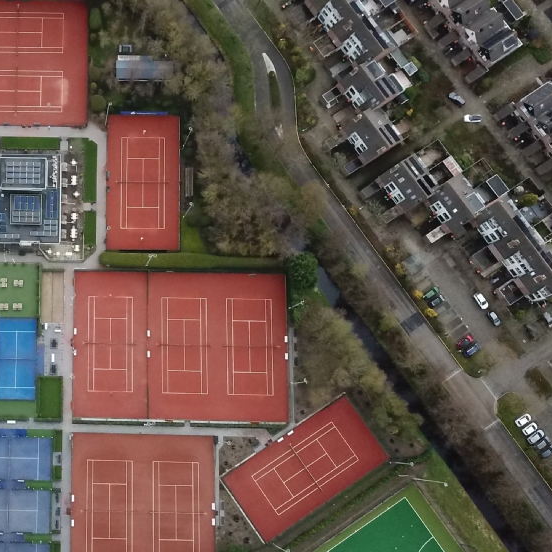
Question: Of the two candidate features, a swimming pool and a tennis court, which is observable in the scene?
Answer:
tennis court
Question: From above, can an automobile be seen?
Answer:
Yes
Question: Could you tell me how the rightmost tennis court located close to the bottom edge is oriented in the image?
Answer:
diagonally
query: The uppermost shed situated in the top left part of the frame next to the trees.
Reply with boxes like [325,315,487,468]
[116,55,172,84]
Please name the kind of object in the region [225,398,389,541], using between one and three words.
tennis court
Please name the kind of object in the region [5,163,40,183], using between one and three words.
solar array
